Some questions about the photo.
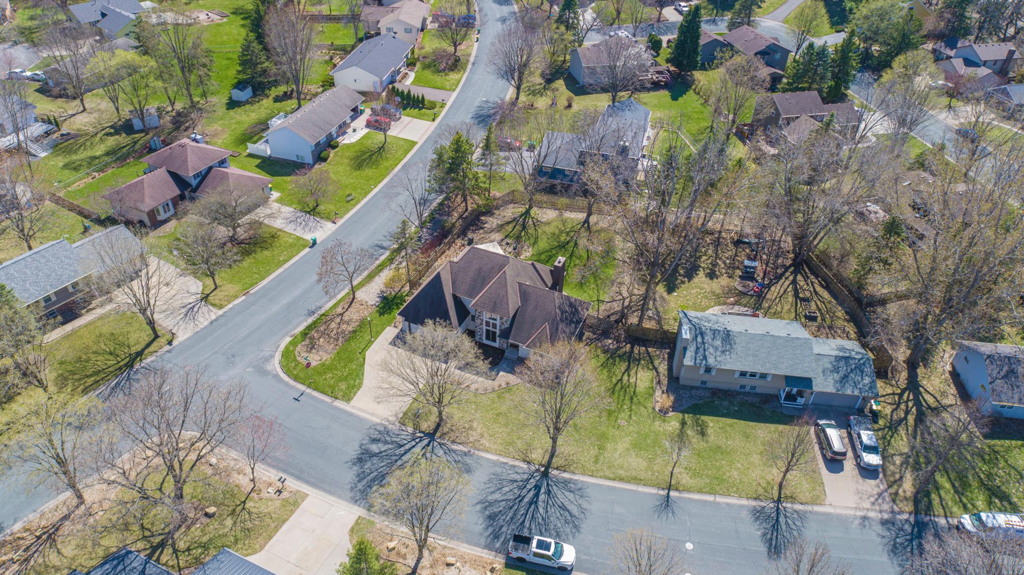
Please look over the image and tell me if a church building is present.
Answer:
No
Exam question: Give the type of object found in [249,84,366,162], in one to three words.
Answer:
house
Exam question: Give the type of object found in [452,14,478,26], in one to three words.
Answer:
vehicle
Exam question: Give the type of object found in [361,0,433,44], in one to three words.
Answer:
house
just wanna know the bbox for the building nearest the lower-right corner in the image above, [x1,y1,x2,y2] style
[956,341,1024,424]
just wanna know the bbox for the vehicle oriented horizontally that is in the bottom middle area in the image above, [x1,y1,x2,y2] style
[506,529,577,570]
